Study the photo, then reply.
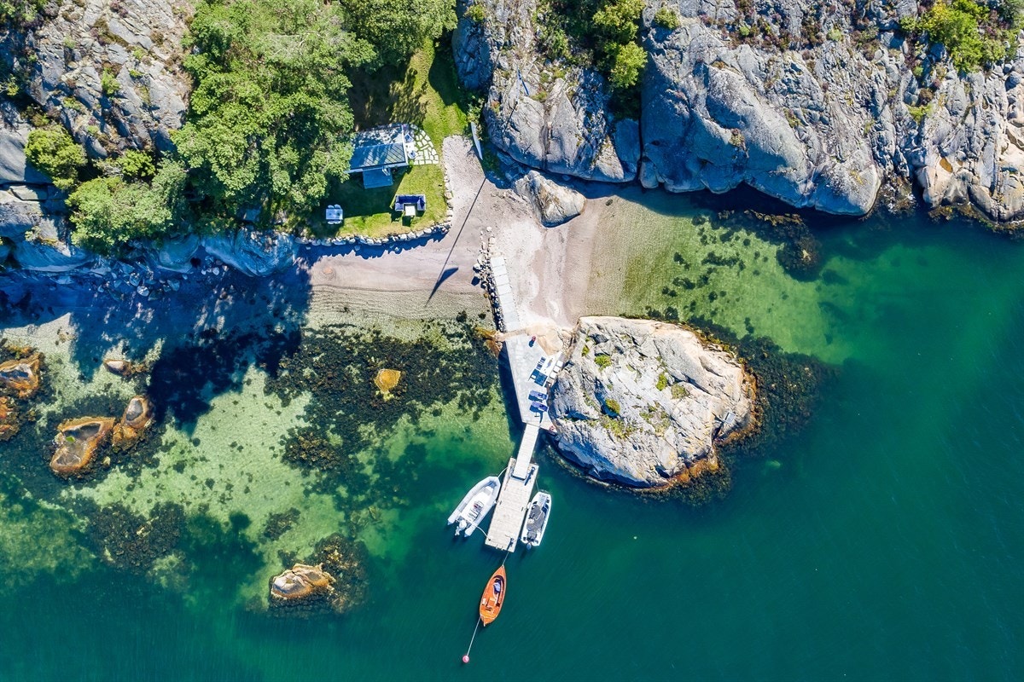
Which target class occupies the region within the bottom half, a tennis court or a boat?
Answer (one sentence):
There is a boat within the bottom half.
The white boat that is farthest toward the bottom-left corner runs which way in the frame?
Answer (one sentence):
In this picture, the white boat that is farthest toward the bottom-left corner lies diagonally.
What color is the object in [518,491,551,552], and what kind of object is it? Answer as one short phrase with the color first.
white boat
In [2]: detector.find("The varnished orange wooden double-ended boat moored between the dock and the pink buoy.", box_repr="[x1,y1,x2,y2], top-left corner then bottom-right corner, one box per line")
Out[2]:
[480,564,506,631]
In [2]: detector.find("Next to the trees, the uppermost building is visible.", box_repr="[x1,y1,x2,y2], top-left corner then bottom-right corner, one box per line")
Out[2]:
[344,126,409,176]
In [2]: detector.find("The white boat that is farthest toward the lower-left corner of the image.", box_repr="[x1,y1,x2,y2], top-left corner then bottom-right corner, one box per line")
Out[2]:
[445,478,498,541]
